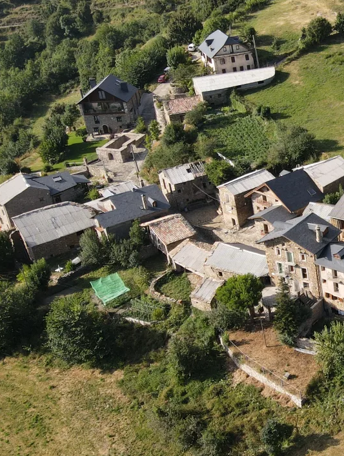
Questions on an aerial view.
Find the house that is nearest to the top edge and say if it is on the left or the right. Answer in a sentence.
It is on the right.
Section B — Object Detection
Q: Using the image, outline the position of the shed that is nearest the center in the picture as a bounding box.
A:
[143,213,197,266]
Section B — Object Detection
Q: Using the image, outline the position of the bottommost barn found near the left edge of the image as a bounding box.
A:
[9,203,95,259]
